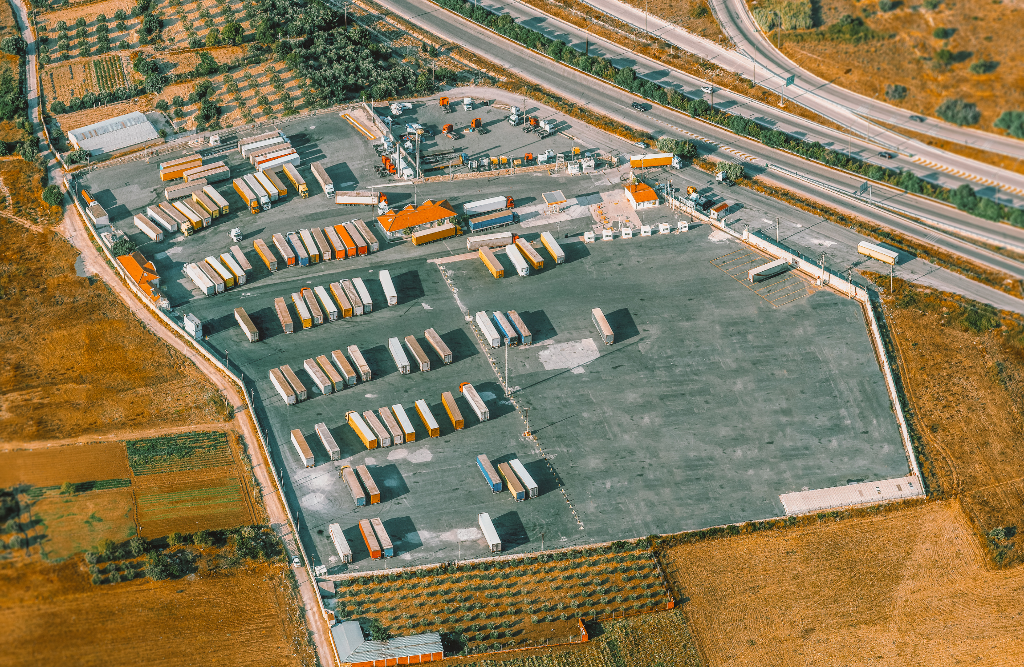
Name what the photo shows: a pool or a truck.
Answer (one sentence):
The one in the frame is a truck.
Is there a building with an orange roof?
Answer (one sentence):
Yes, there's a building with an orange roof here.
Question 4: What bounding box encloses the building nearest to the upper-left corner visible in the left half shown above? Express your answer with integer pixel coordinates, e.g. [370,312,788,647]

[71,112,162,166]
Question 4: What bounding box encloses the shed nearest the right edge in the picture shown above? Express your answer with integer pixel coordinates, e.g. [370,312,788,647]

[780,473,925,520]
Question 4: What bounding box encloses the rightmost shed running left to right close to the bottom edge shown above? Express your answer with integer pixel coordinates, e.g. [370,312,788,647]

[329,621,444,667]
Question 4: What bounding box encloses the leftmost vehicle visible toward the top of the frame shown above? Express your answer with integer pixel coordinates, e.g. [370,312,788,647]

[79,190,96,206]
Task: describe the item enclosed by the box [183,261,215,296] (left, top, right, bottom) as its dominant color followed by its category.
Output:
white truck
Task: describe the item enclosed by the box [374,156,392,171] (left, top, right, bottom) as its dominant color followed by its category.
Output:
red vehicle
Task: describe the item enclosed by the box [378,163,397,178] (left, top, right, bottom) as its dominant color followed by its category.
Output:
red vehicle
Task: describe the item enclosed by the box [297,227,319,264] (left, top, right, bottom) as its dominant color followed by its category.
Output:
white truck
